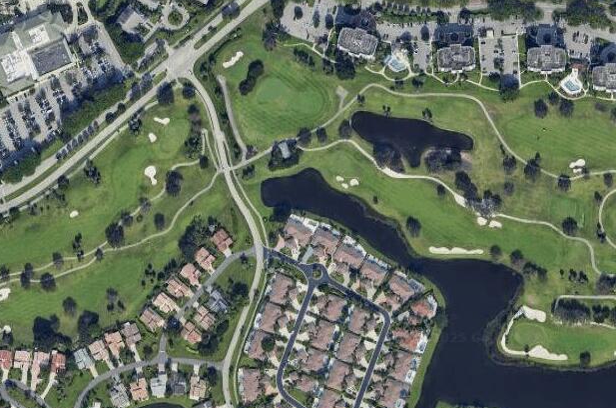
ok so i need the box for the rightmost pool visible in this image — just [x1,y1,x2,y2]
[565,78,581,93]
